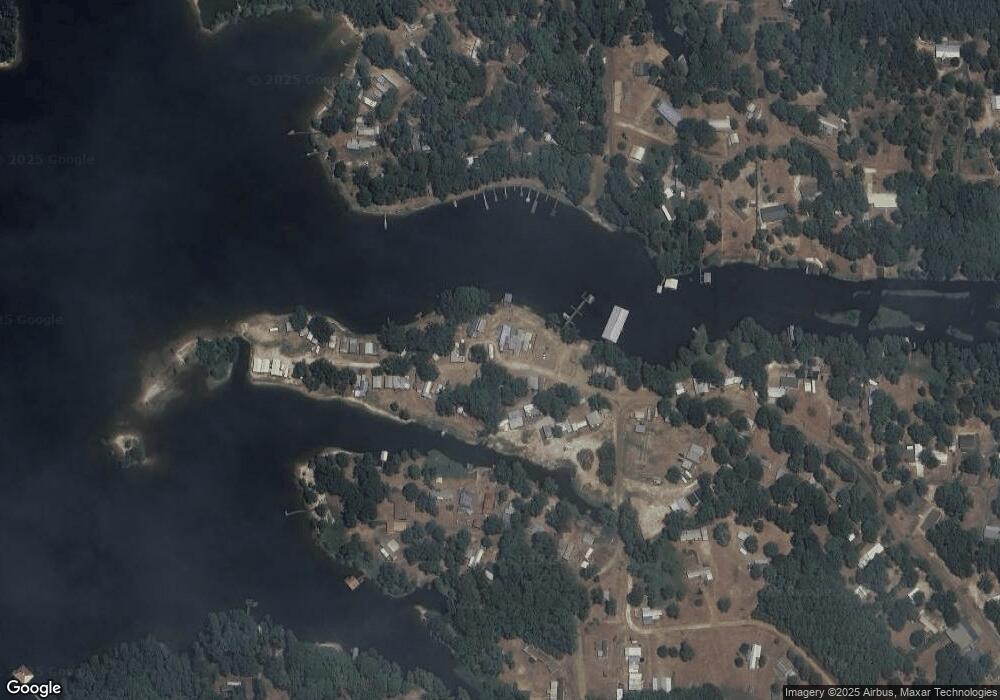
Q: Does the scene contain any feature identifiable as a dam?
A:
No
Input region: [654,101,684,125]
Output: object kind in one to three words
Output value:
house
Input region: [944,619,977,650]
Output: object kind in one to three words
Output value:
building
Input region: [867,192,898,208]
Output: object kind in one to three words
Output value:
house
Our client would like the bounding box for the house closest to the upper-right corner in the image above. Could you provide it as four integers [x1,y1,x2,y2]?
[936,44,960,62]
